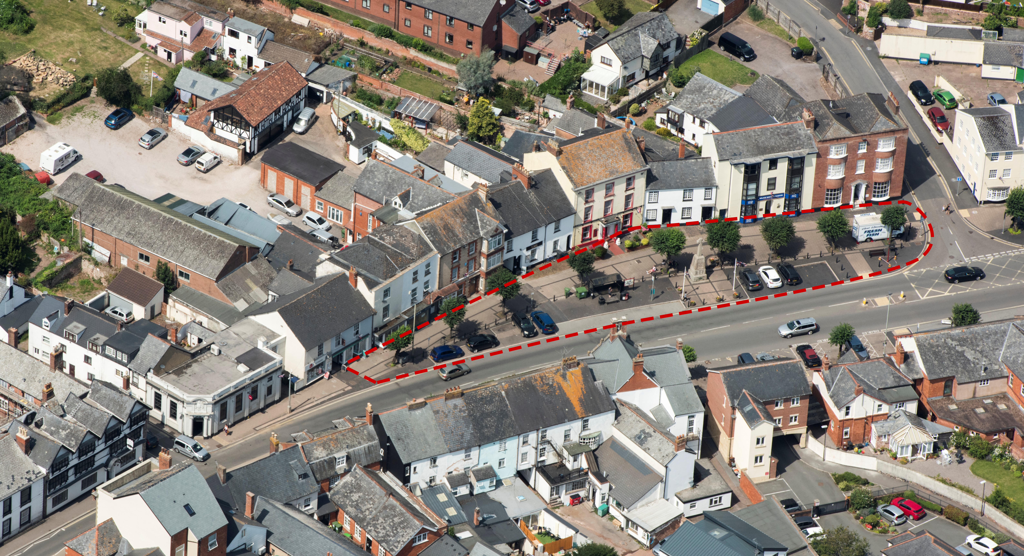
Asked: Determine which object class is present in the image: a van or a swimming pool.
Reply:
van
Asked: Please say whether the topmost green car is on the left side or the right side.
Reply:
right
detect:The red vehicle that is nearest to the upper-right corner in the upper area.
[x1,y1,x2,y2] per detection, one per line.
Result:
[926,108,948,131]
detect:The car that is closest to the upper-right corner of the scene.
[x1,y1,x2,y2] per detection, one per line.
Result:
[981,88,1013,111]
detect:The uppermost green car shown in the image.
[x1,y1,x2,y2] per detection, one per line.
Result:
[931,89,959,110]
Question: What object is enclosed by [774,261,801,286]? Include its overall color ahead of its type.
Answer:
black car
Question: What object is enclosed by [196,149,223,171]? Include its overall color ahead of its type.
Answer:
white vehicle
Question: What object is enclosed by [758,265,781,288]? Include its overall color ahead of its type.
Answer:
white car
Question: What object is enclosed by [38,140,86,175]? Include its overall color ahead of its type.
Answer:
white camper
